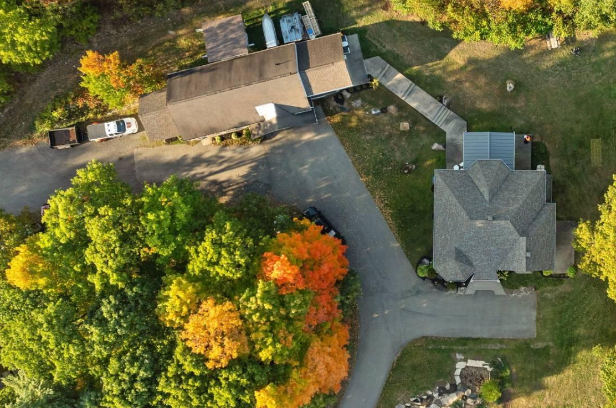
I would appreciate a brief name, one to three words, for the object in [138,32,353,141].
building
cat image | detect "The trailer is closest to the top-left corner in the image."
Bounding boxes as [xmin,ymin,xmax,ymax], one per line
[47,124,88,148]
